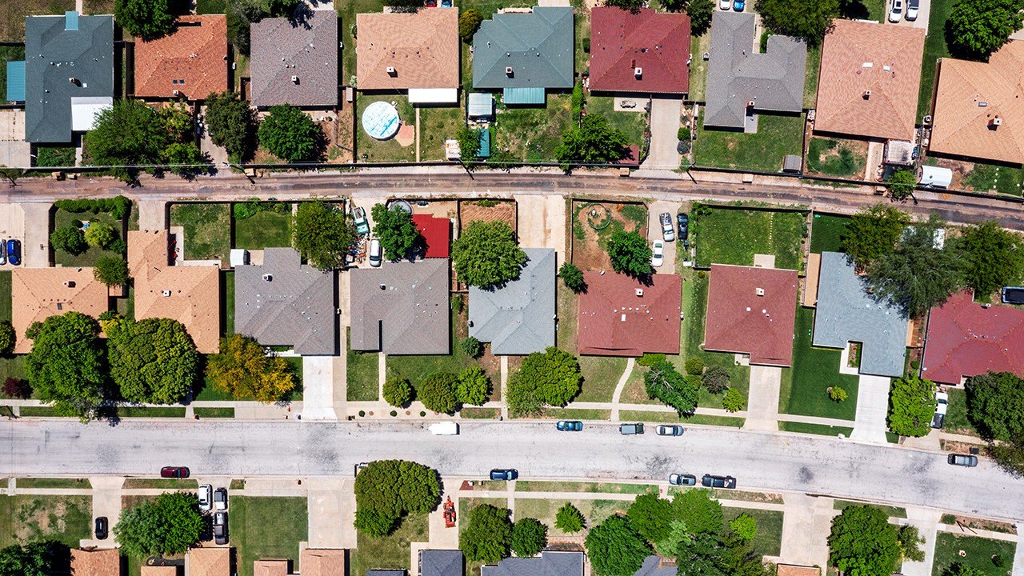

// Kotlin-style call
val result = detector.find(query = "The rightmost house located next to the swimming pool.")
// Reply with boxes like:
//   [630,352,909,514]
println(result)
[356,7,459,106]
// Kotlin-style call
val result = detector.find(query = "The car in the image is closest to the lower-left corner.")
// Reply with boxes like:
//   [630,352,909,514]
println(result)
[93,515,110,540]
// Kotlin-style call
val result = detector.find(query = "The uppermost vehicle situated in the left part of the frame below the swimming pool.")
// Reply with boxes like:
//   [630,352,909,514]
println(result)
[352,205,369,235]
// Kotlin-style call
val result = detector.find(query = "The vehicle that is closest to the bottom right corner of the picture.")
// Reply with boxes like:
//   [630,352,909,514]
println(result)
[945,453,978,466]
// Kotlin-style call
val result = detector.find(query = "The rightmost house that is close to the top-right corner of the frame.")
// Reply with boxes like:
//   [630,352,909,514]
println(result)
[925,39,1024,165]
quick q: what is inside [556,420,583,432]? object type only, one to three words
vehicle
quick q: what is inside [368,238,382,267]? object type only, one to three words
vehicle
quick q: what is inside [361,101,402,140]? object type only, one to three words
swimming pool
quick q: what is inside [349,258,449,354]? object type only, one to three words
house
